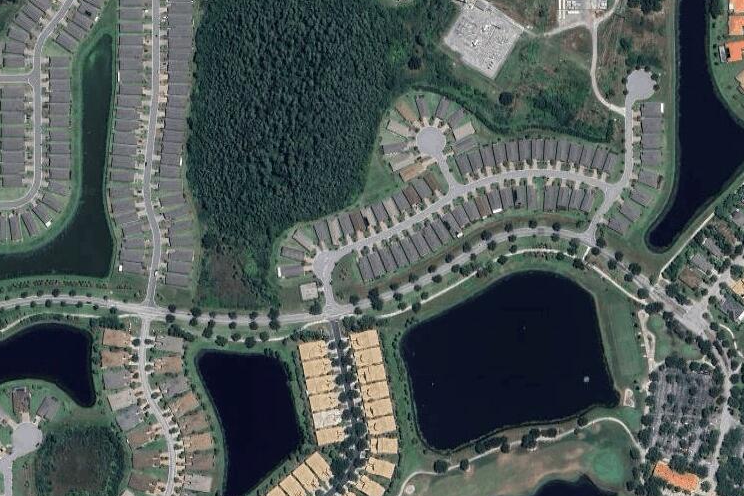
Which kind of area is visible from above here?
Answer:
residential area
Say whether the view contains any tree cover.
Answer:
Yes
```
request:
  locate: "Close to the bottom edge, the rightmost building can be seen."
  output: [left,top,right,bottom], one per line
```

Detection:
[652,462,700,491]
